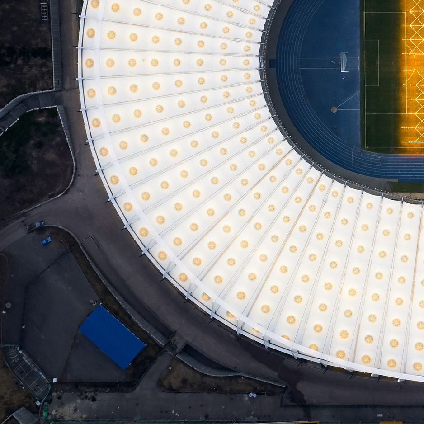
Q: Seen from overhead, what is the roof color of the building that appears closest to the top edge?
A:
blue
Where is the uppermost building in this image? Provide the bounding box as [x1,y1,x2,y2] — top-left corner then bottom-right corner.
[79,301,152,370]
